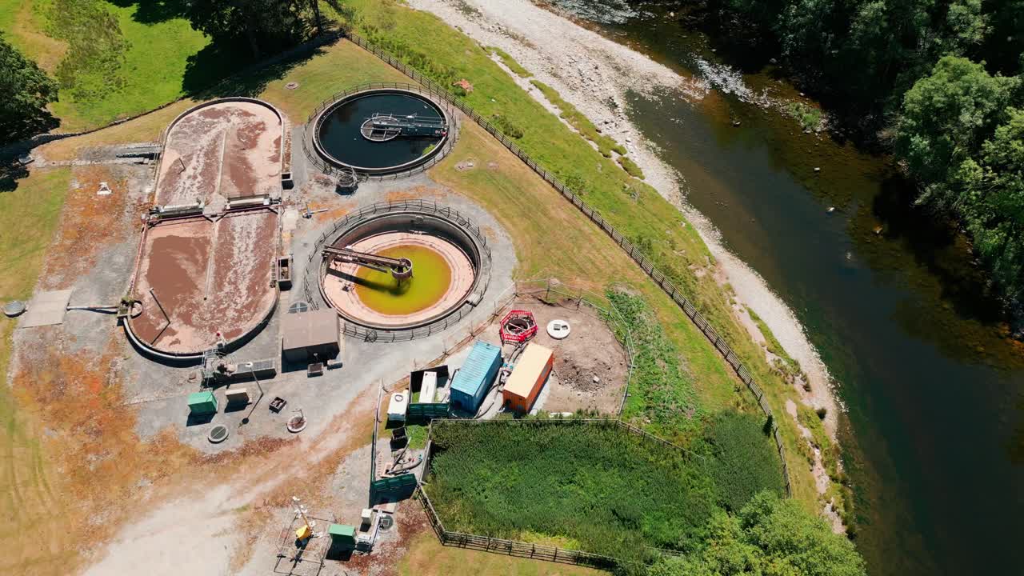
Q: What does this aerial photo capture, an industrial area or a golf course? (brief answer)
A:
industrial area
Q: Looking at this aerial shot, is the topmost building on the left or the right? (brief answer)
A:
left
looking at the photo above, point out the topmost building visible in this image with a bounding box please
[281,309,346,371]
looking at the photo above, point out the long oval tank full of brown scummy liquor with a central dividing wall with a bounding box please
[118,98,286,365]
